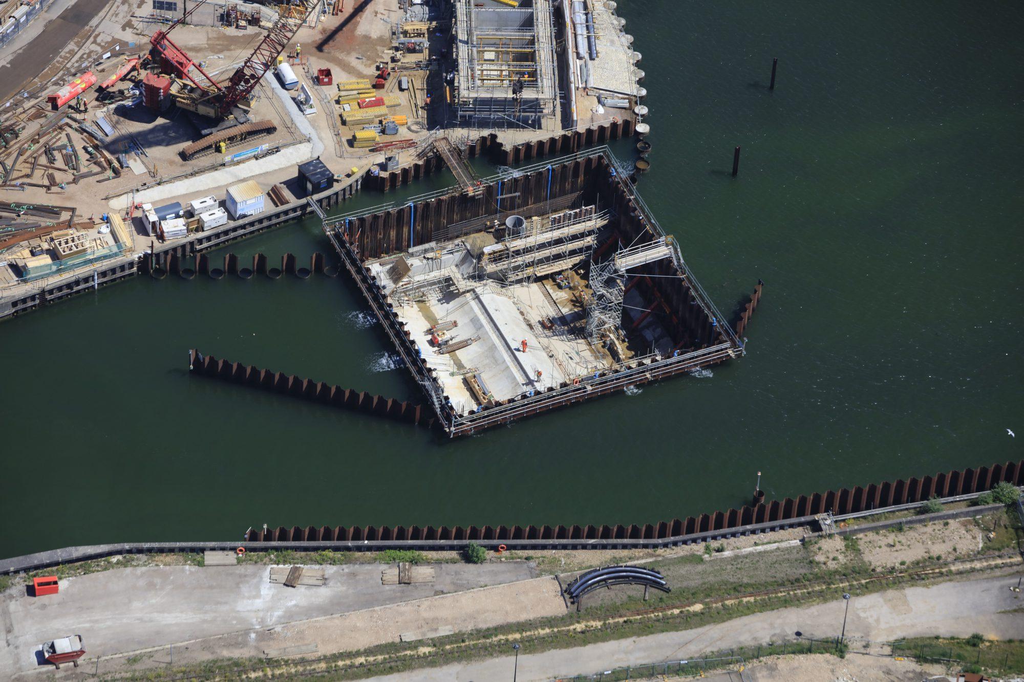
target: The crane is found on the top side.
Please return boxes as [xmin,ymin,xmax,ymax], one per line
[141,0,321,155]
